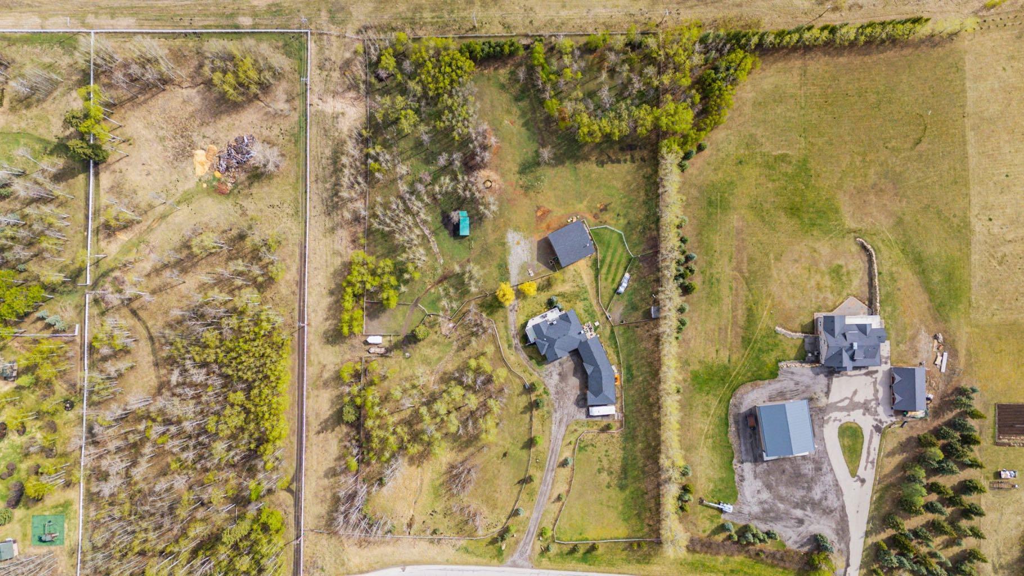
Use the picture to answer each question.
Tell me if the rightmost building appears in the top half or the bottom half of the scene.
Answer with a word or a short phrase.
bottom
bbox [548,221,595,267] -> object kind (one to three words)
building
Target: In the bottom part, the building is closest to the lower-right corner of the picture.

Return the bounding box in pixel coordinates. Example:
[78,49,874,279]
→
[887,366,926,411]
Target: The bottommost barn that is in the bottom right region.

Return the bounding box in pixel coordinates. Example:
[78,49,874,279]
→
[754,399,816,461]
